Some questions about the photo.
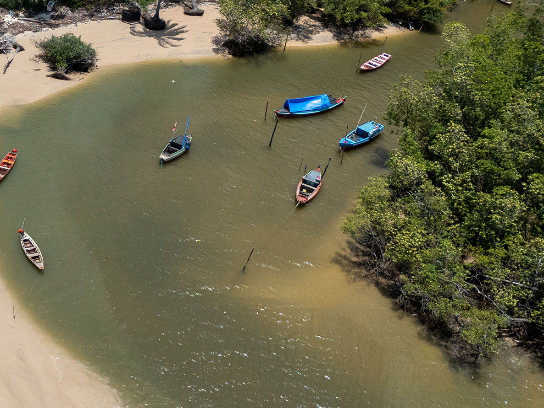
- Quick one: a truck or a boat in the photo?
boat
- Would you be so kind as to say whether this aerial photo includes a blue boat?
Yes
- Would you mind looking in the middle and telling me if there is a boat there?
Yes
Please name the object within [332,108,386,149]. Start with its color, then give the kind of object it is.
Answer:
blue boat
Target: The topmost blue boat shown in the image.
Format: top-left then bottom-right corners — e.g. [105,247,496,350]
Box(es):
[269,93,349,117]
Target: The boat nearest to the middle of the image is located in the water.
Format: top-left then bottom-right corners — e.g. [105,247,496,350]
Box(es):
[290,144,324,212]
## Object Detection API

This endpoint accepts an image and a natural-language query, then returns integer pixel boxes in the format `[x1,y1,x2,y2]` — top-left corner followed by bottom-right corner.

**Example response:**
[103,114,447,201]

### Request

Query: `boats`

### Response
[359,51,393,72]
[269,93,349,117]
[290,144,324,212]
[499,0,514,6]
[12,212,45,274]
[158,117,196,164]
[0,145,17,181]
[332,108,386,149]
